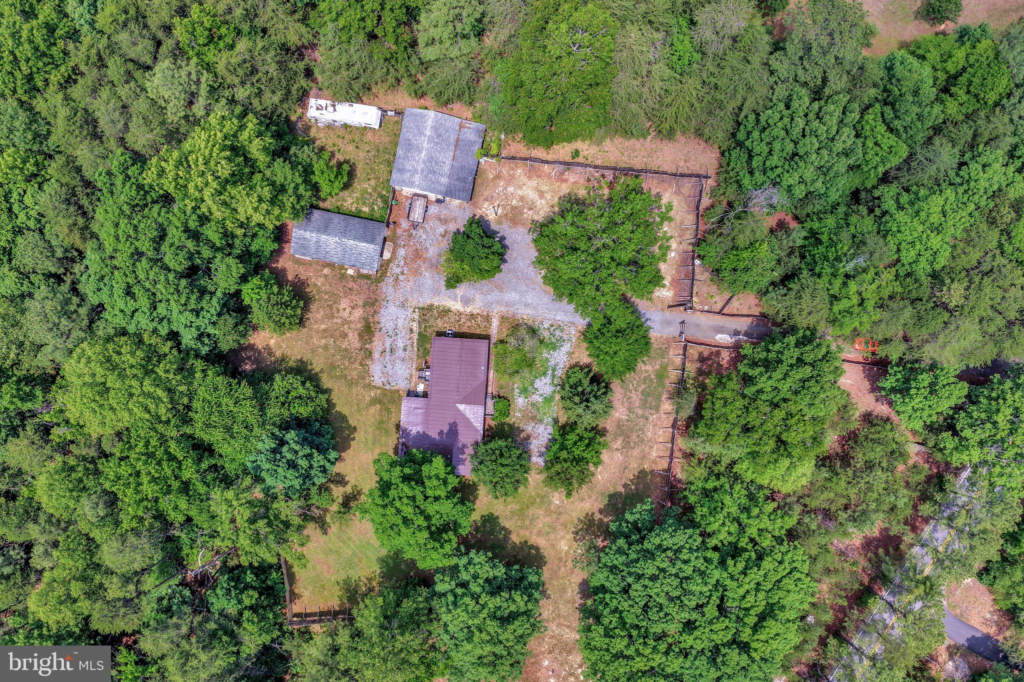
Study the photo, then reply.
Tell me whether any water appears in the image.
No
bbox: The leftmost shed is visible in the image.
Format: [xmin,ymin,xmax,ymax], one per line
[291,208,392,270]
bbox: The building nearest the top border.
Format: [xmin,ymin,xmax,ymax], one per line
[390,109,486,203]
